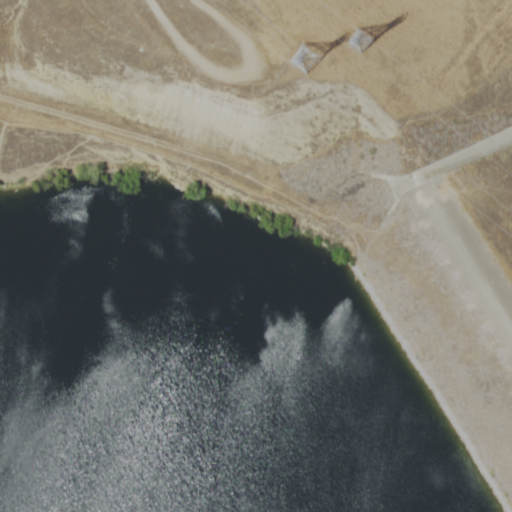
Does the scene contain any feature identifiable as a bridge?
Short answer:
No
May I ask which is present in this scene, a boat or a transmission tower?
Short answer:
transmission tower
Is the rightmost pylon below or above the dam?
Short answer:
above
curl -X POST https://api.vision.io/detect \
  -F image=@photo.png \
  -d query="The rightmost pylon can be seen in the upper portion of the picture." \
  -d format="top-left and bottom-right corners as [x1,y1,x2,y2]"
[347,28,374,54]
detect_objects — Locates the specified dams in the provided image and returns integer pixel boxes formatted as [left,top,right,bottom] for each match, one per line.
[350,160,512,512]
